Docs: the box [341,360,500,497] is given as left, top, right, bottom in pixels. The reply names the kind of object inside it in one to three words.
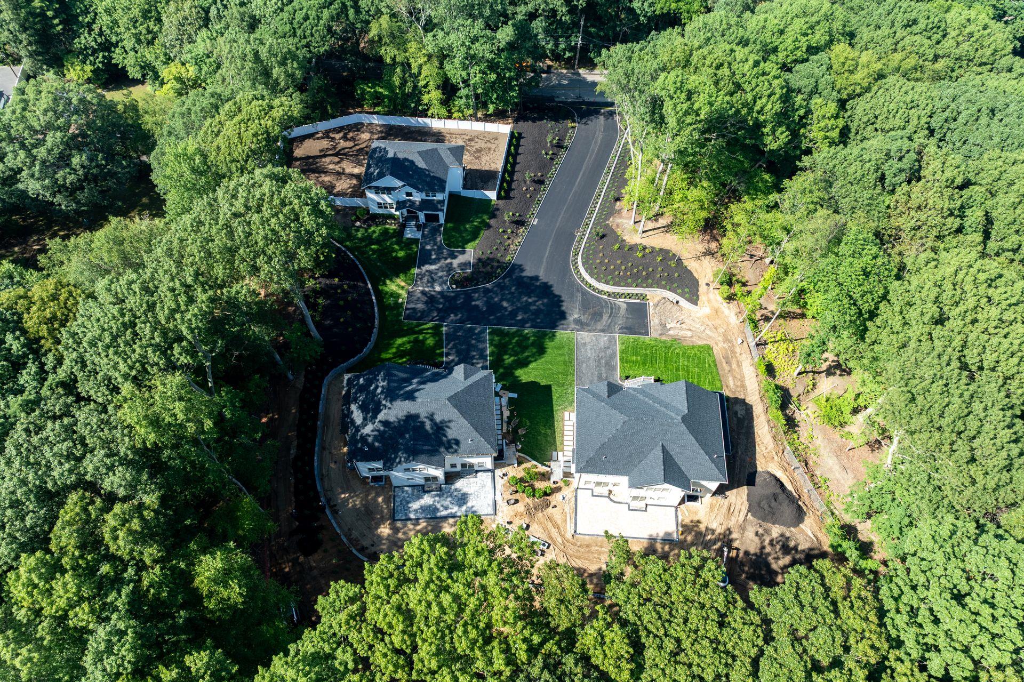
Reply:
house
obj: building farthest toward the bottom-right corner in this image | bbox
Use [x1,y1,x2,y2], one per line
[573,377,733,517]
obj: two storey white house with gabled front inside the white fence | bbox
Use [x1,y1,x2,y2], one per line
[359,140,464,229]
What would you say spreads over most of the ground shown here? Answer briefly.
trees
